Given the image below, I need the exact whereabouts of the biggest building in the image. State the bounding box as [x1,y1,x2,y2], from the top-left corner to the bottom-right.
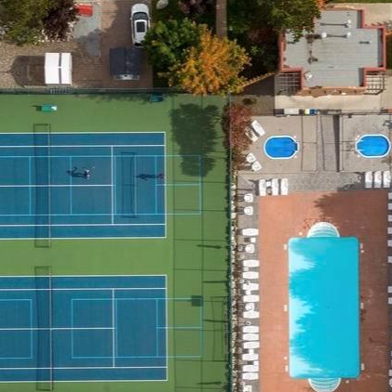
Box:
[278,6,387,96]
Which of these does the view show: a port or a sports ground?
sports ground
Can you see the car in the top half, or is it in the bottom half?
top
